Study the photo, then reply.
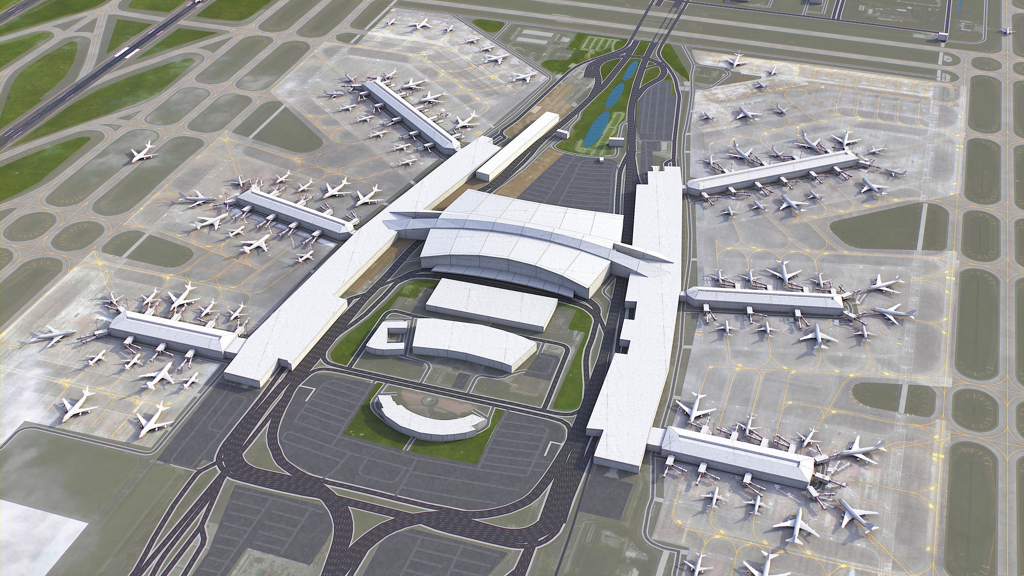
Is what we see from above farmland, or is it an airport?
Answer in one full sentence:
The picture captures an airport.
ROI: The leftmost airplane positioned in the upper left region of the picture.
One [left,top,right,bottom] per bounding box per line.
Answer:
[131,141,158,163]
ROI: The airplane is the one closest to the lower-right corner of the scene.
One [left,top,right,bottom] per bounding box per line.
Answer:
[839,498,879,531]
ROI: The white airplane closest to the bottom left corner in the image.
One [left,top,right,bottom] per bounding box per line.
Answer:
[62,388,99,422]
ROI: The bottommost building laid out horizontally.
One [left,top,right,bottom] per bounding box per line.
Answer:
[378,395,486,441]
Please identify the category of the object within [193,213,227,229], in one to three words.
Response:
airplane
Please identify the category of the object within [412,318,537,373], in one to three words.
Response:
building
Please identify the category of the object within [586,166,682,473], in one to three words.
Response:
building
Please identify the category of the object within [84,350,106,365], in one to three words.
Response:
airplane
